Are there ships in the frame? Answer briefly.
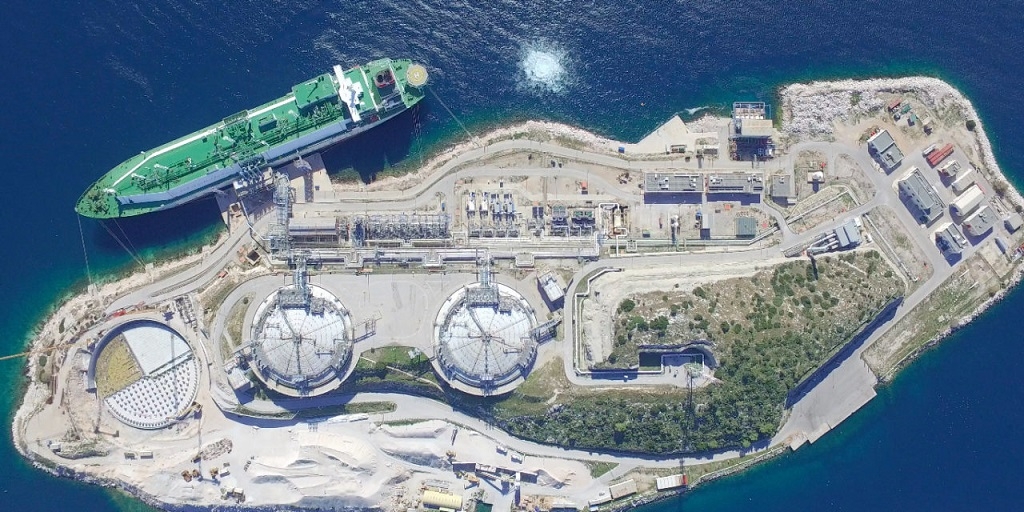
Yes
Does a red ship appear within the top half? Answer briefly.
No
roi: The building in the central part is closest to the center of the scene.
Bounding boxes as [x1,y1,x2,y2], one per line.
[538,271,565,302]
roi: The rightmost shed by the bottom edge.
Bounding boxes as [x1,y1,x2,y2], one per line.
[655,473,689,490]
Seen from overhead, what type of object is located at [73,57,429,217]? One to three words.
ship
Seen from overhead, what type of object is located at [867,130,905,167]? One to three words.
building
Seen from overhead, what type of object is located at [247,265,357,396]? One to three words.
storage tank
